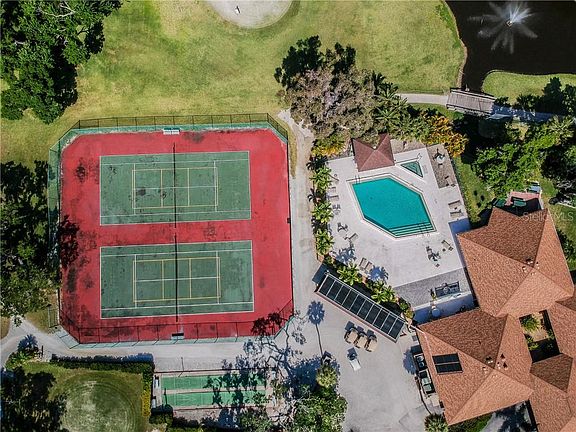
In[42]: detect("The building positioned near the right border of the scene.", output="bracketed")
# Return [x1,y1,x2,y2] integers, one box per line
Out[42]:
[417,207,576,432]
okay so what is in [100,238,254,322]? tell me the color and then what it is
green tennis court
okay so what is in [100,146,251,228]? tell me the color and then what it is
green tennis court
